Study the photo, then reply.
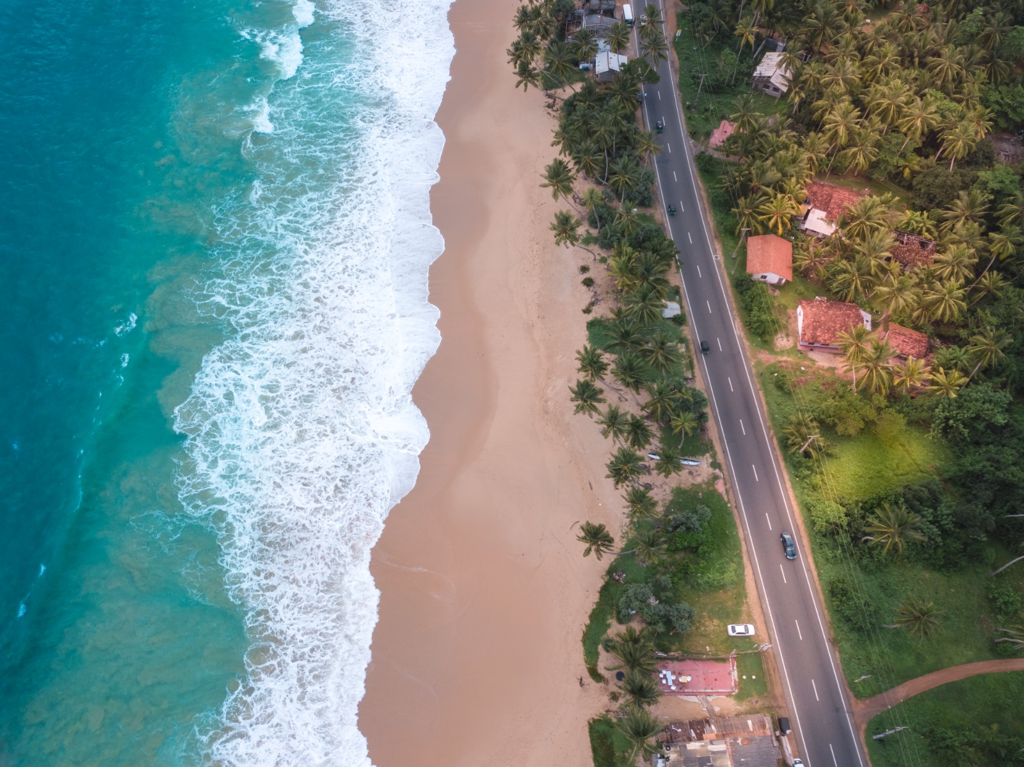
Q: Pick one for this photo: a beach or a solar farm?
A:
beach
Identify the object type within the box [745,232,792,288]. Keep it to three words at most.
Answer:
house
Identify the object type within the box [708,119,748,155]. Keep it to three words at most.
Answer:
house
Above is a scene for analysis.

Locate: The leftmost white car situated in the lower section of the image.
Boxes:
[728,622,756,636]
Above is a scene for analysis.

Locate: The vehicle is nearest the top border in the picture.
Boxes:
[624,1,636,26]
